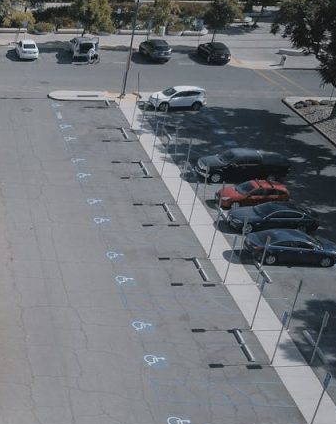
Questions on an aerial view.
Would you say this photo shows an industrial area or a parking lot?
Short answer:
parking lot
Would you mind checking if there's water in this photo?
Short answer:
No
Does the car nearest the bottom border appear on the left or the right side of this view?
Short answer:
right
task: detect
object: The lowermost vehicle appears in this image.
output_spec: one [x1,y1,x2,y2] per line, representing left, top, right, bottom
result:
[244,228,336,265]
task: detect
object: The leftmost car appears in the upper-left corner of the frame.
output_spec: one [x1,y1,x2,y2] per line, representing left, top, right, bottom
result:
[18,38,40,57]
